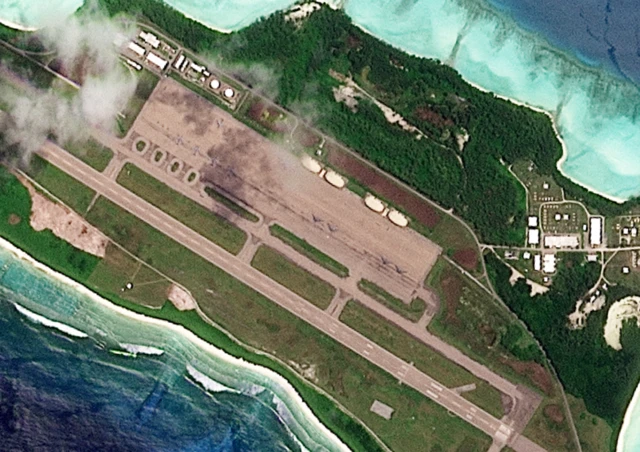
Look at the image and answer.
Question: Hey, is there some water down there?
Yes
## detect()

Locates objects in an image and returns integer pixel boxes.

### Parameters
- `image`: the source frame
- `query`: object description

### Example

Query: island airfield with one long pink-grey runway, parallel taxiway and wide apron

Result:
[0,67,549,452]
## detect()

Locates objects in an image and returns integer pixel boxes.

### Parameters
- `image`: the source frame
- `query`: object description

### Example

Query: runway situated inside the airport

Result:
[0,111,524,449]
